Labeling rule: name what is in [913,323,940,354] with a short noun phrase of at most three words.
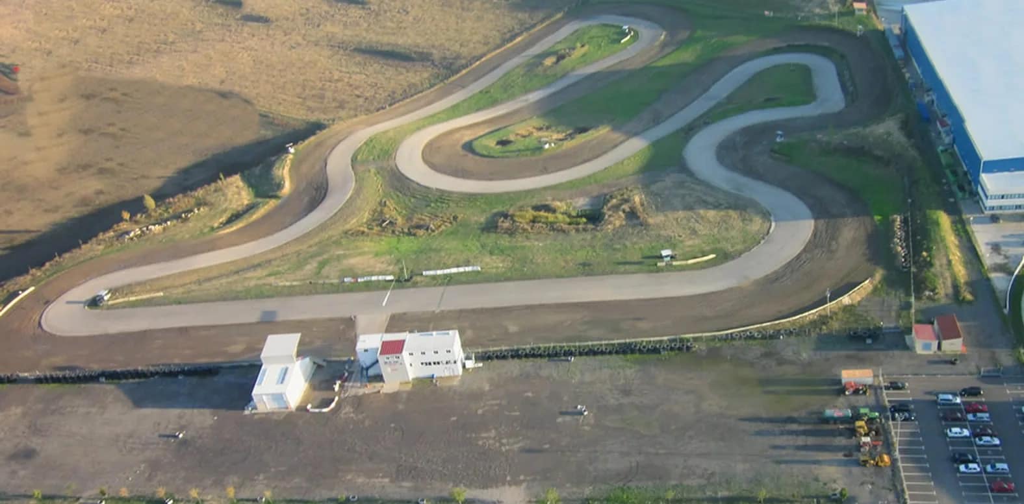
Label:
building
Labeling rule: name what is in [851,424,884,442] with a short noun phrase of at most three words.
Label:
work vehicle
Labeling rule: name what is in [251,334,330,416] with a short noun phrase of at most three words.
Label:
house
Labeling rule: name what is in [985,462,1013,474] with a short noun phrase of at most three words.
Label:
vehicle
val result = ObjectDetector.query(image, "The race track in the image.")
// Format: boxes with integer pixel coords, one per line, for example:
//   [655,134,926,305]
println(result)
[39,15,845,336]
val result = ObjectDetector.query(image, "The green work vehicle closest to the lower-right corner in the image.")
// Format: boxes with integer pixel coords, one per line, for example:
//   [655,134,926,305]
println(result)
[856,406,881,424]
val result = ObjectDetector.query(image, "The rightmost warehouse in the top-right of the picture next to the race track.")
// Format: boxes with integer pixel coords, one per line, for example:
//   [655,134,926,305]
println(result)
[906,0,1024,202]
